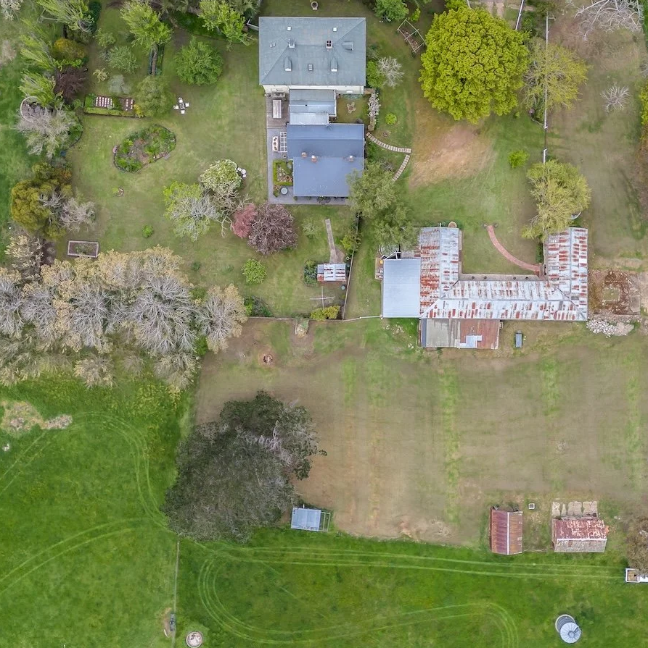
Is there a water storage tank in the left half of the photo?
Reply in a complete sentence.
No, no water storage tank is visible in the left half of the photo.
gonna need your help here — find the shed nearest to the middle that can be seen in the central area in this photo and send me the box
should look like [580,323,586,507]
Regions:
[318,263,346,281]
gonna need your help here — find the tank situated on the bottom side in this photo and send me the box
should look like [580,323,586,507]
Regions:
[554,614,579,642]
